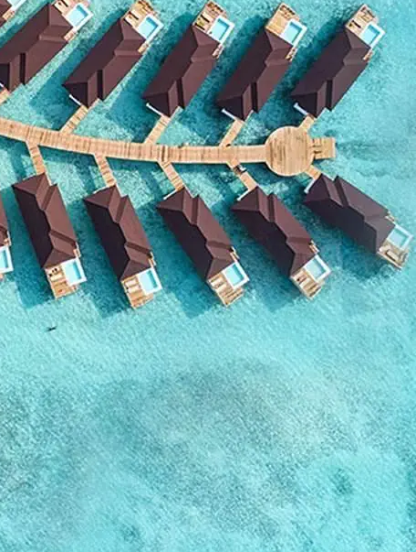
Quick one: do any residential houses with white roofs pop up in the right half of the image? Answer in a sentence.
No, there is no residential house with a white roof in the right half of the image.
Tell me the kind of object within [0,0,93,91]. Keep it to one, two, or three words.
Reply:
house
